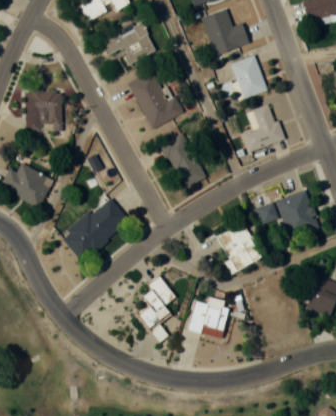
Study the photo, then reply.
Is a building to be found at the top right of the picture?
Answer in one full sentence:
Yes, a building can be seen at the top right of the picture.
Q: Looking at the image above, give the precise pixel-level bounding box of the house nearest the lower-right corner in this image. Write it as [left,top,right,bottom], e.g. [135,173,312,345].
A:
[307,278,336,316]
